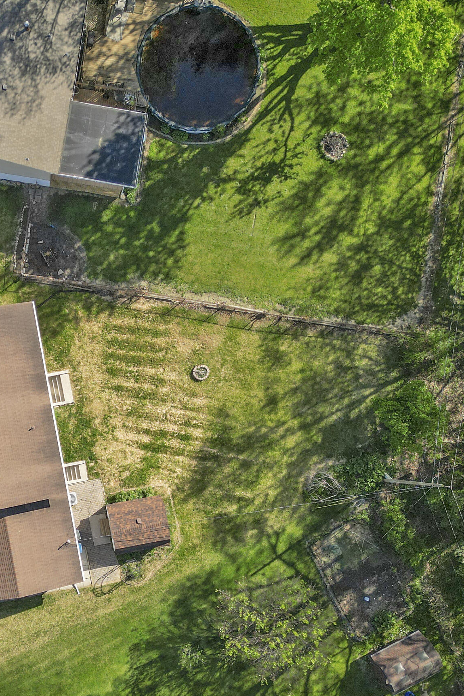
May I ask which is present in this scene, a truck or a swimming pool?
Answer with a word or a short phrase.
swimming pool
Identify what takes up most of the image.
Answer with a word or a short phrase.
grass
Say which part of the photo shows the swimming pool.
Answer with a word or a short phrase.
top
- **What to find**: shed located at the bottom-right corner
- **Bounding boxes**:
[362,625,442,695]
